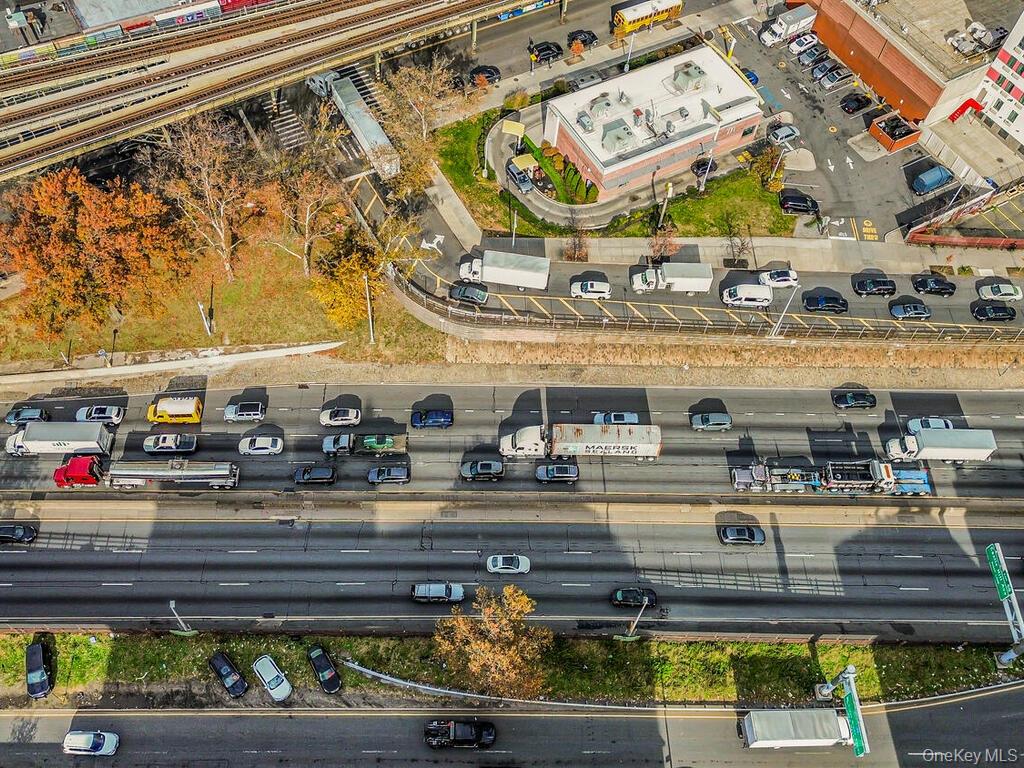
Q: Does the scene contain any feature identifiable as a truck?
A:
Yes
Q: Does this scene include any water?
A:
No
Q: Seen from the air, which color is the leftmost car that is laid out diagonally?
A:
black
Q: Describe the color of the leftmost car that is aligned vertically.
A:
black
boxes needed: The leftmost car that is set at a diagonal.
[207,649,249,699]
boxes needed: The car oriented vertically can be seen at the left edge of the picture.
[23,639,51,699]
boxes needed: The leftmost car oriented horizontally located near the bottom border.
[62,730,121,755]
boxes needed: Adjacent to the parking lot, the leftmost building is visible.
[542,38,768,204]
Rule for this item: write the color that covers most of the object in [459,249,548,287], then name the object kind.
white truck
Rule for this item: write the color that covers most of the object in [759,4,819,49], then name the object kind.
white truck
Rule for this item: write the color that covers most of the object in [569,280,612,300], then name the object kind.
white car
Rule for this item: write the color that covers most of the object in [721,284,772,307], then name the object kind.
white vehicle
